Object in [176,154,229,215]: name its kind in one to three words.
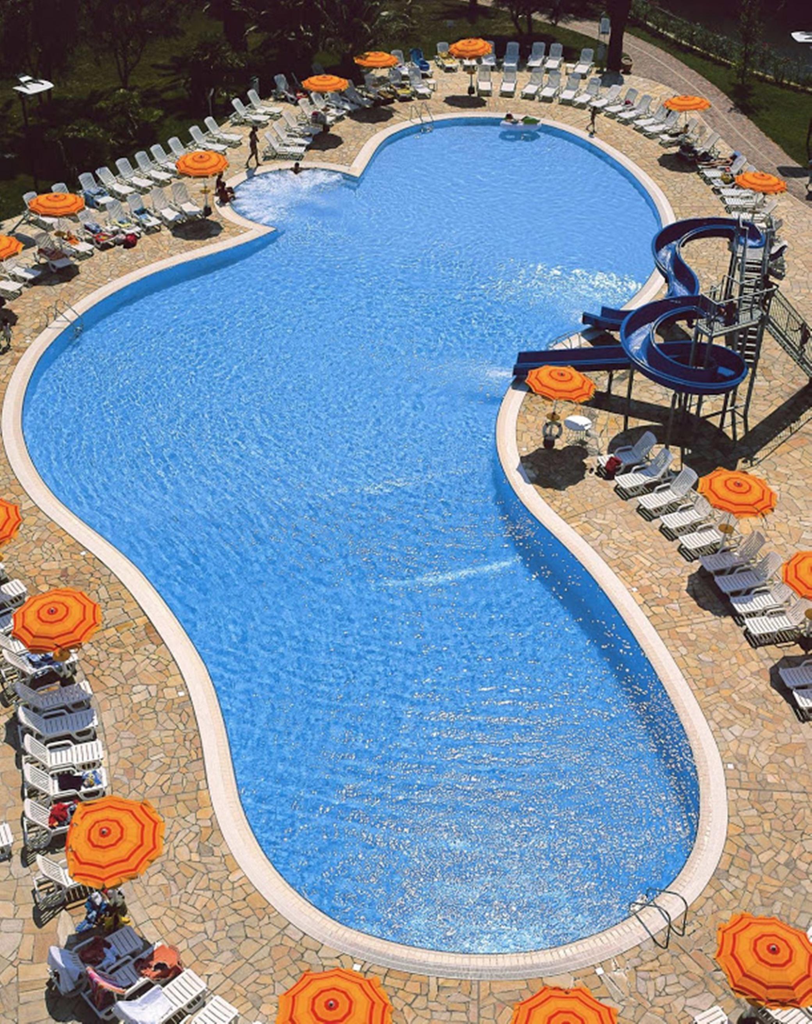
umbrella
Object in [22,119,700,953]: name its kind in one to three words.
swimming pool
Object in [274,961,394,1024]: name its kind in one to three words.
umbrella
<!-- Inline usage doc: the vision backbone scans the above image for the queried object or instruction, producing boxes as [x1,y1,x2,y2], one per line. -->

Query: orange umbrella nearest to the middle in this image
[524,362,593,441]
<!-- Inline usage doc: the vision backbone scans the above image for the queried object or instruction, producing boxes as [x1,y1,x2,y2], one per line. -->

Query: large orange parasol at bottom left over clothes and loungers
[62,792,170,910]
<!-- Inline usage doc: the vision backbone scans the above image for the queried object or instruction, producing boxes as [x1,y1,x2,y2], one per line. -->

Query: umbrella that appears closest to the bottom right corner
[713,905,812,1024]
